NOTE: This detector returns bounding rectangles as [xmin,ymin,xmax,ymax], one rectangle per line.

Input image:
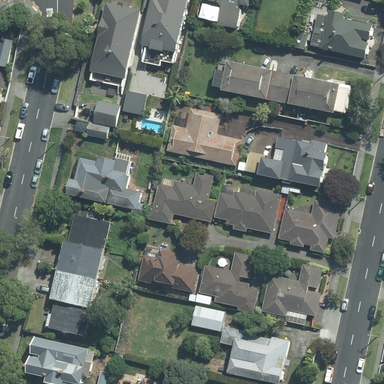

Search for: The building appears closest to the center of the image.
[150,172,216,224]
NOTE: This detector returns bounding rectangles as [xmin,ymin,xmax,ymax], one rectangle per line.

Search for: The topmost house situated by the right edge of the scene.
[311,10,377,58]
